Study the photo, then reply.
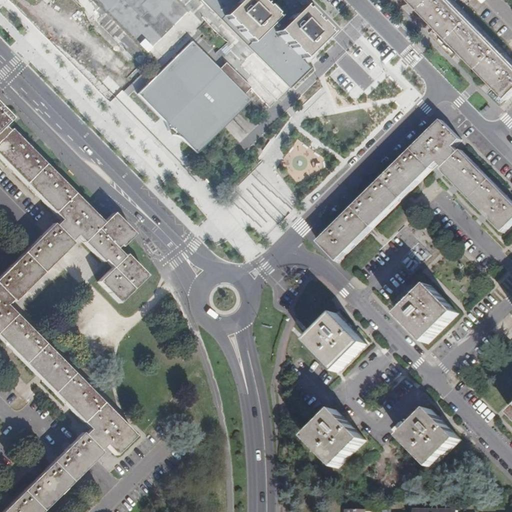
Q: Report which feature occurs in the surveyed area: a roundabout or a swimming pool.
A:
roundabout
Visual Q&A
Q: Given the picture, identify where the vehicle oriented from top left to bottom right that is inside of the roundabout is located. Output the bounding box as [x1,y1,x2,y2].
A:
[202,303,218,318]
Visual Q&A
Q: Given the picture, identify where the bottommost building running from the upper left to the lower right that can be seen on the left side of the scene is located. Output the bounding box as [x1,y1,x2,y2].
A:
[0,278,148,458]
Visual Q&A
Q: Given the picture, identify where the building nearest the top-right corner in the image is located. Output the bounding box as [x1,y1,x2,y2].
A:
[406,0,512,100]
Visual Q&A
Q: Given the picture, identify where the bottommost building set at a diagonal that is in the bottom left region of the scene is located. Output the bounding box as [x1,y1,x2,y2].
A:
[7,434,112,512]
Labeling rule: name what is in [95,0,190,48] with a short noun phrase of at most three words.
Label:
building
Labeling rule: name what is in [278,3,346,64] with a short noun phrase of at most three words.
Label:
building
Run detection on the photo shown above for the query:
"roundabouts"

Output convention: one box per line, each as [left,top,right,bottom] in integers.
[192,266,258,332]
